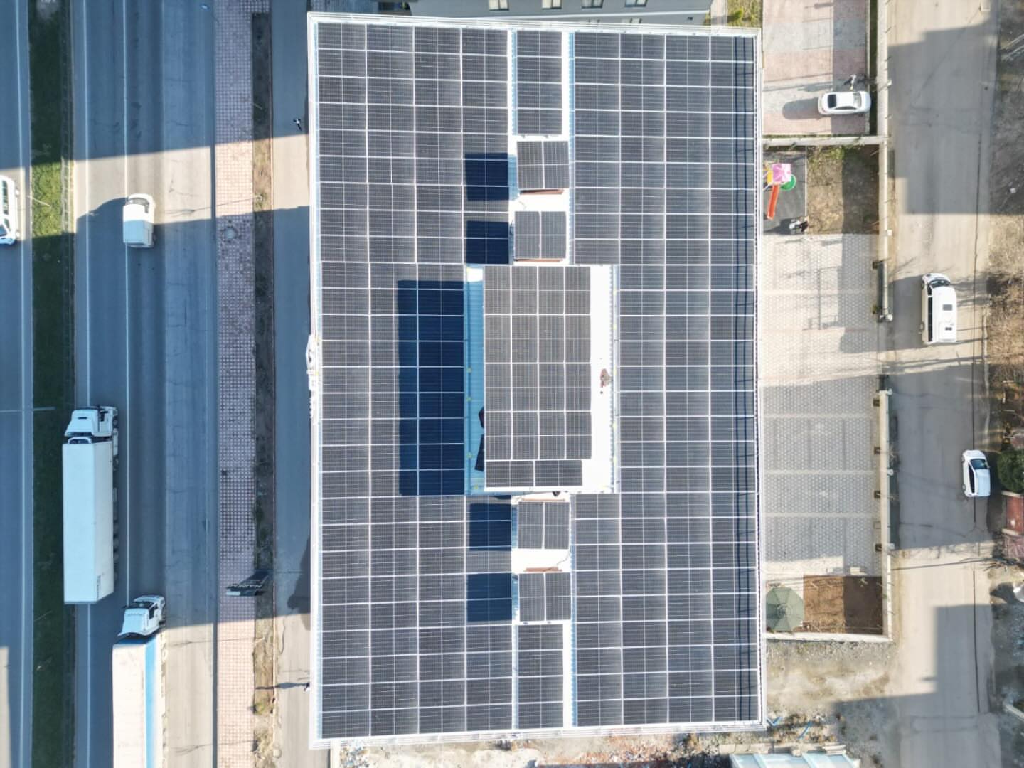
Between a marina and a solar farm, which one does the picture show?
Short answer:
solar farm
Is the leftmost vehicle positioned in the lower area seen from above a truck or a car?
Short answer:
truck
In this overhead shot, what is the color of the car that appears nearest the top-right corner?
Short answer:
white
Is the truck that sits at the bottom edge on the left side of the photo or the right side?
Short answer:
left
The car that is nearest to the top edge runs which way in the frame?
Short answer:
horizontally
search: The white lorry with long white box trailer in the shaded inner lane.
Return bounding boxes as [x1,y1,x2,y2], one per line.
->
[64,406,119,602]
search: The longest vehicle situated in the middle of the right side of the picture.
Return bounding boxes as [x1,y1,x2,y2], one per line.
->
[919,273,955,344]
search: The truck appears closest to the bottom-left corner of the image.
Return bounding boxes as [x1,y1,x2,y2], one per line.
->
[114,596,166,768]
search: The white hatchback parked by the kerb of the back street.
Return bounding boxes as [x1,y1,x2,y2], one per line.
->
[962,450,991,496]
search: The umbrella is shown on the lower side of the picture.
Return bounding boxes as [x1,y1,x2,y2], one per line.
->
[765,587,803,630]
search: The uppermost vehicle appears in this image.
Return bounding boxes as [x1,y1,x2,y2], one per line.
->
[820,89,871,115]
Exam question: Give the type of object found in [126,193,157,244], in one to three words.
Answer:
van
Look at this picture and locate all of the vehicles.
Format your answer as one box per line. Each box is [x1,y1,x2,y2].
[126,193,157,244]
[962,450,991,496]
[64,406,119,602]
[0,172,17,243]
[919,273,955,344]
[820,89,871,115]
[114,596,166,768]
